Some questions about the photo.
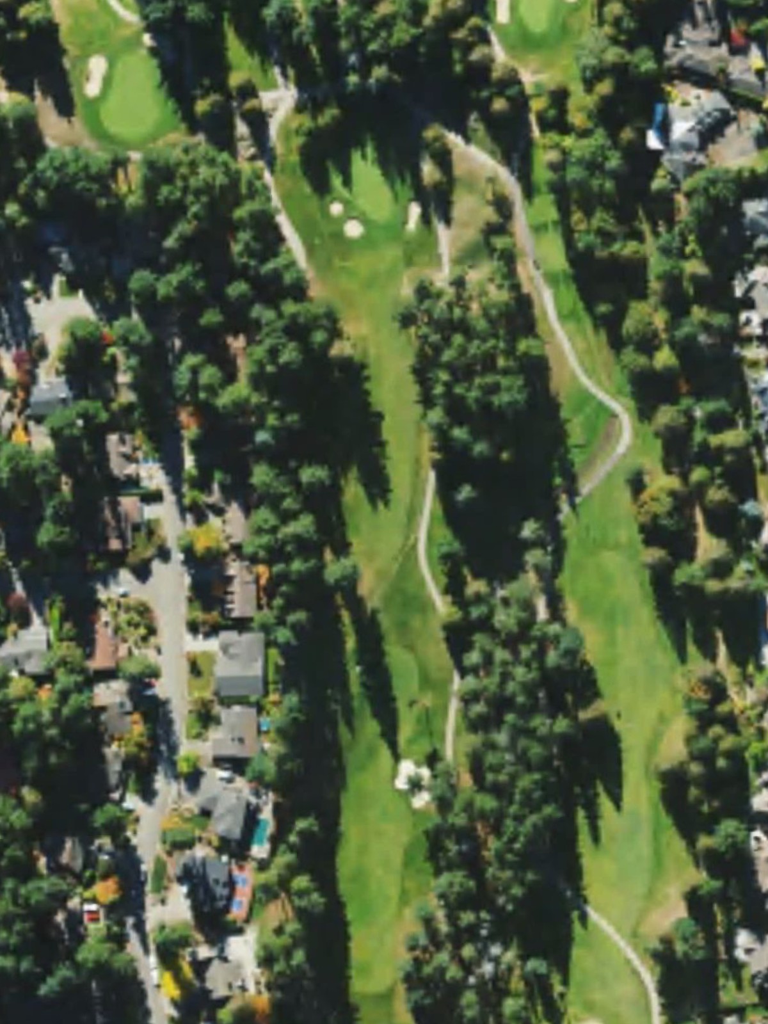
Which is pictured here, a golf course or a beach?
golf course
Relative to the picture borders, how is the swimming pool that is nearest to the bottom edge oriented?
up and down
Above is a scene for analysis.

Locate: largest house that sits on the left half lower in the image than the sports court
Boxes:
[203,959,242,999]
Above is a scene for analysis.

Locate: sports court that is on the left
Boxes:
[231,860,254,922]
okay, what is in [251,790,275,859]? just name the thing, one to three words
swimming pool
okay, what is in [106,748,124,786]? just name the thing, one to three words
house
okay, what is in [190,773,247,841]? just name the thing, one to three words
house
